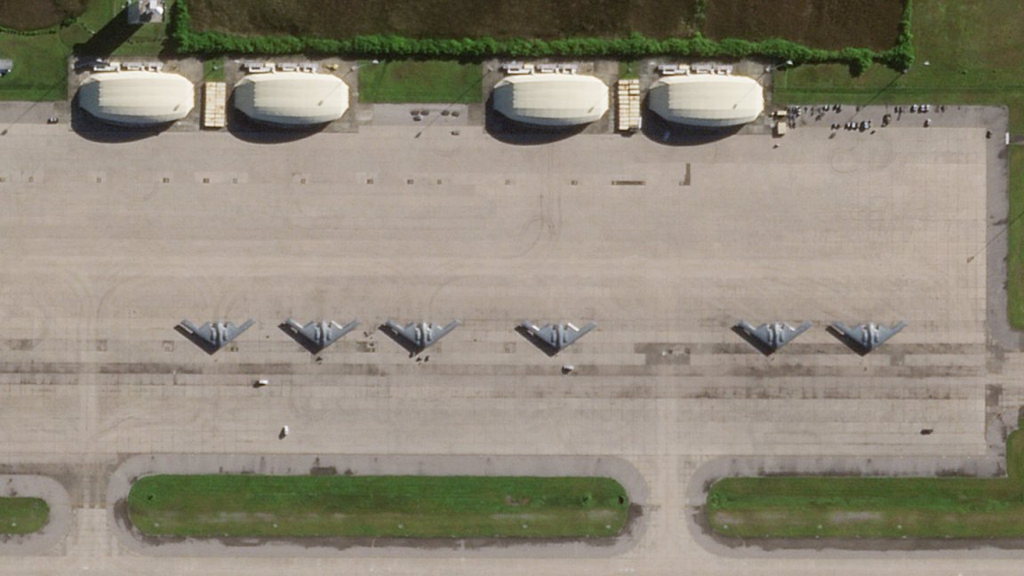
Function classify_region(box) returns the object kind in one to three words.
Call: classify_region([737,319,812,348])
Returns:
airplane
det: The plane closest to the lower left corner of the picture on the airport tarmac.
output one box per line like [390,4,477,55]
[180,319,257,348]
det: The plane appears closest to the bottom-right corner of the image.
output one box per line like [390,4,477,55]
[832,320,907,348]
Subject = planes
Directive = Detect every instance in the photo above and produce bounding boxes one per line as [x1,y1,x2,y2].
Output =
[385,318,462,347]
[284,318,361,347]
[180,319,257,348]
[832,320,907,348]
[737,319,812,348]
[521,320,597,349]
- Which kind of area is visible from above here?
airport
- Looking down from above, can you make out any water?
No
